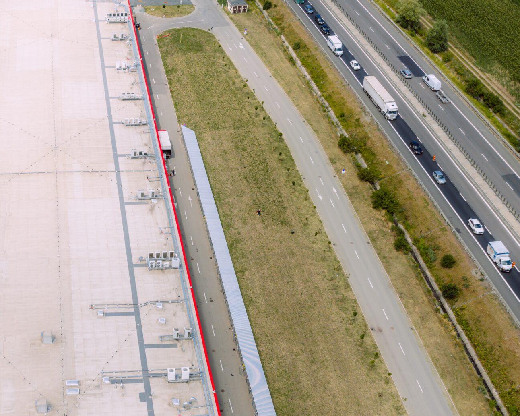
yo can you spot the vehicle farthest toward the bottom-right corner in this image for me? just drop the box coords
[489,239,514,272]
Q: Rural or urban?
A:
urban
